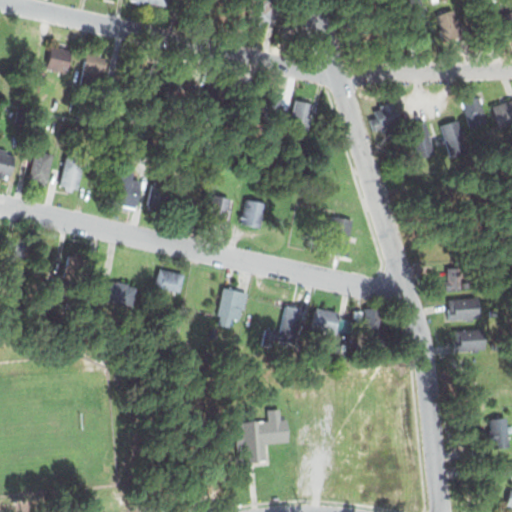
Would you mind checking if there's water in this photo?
No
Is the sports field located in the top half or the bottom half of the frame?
bottom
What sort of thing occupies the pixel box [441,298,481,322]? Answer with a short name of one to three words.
house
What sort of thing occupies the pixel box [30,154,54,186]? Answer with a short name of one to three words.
house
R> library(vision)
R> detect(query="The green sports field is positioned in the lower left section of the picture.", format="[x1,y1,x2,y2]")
[0,362,114,496]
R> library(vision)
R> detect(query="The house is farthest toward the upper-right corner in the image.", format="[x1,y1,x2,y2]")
[438,10,460,42]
